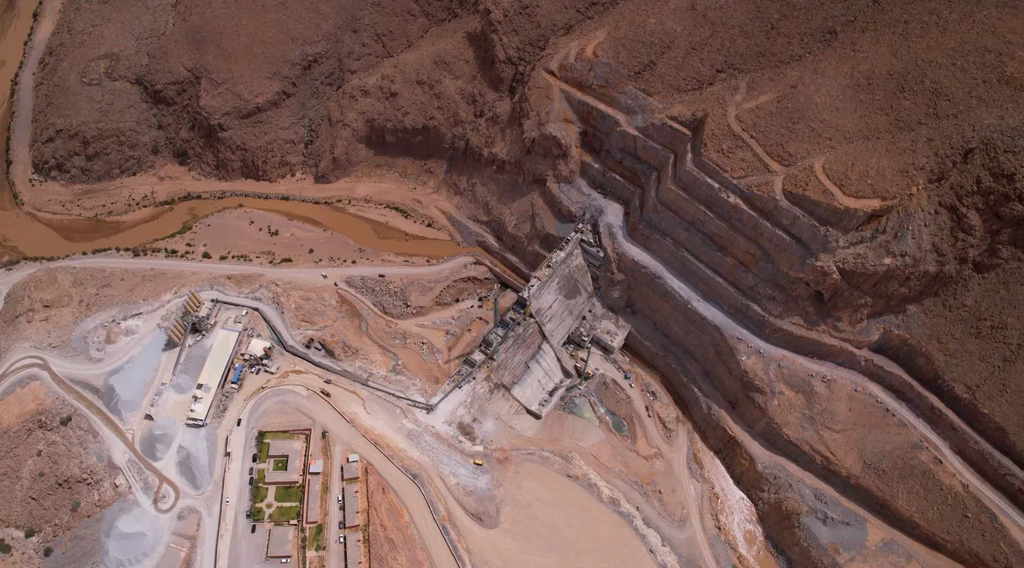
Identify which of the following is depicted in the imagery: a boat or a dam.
dam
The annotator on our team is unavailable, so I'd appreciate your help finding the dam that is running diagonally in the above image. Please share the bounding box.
[429,223,605,419]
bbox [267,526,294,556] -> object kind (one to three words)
house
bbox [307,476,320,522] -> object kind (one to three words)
house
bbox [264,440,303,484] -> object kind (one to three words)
building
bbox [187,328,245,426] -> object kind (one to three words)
shed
